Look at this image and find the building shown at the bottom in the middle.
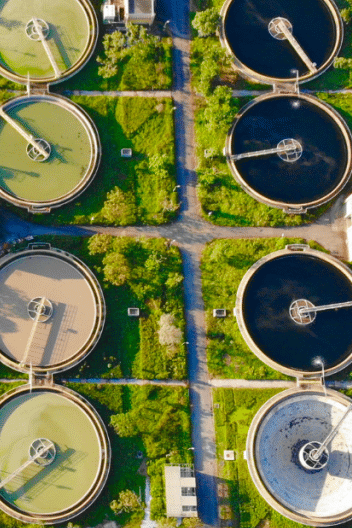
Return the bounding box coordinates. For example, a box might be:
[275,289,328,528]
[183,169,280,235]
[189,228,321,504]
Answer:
[162,460,199,516]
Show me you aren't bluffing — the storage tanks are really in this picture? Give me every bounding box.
[230,239,352,395]
[0,238,107,395]
[220,92,352,217]
[0,92,103,218]
[240,374,352,525]
[216,0,342,107]
[0,372,111,523]
[0,0,99,98]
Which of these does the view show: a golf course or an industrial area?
industrial area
